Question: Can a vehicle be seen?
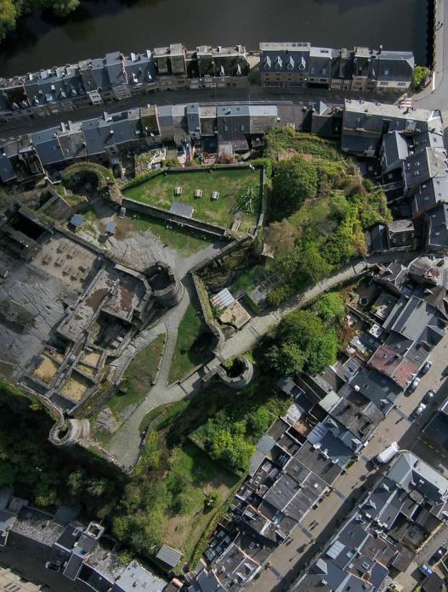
Yes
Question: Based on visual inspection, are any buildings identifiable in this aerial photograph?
Yes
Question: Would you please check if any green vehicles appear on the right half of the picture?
No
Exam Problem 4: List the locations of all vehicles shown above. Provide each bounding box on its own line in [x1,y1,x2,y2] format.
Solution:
[423,386,437,404]
[407,374,422,393]
[418,564,431,575]
[420,359,434,377]
[372,440,397,469]
[429,546,446,566]
[412,401,427,418]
